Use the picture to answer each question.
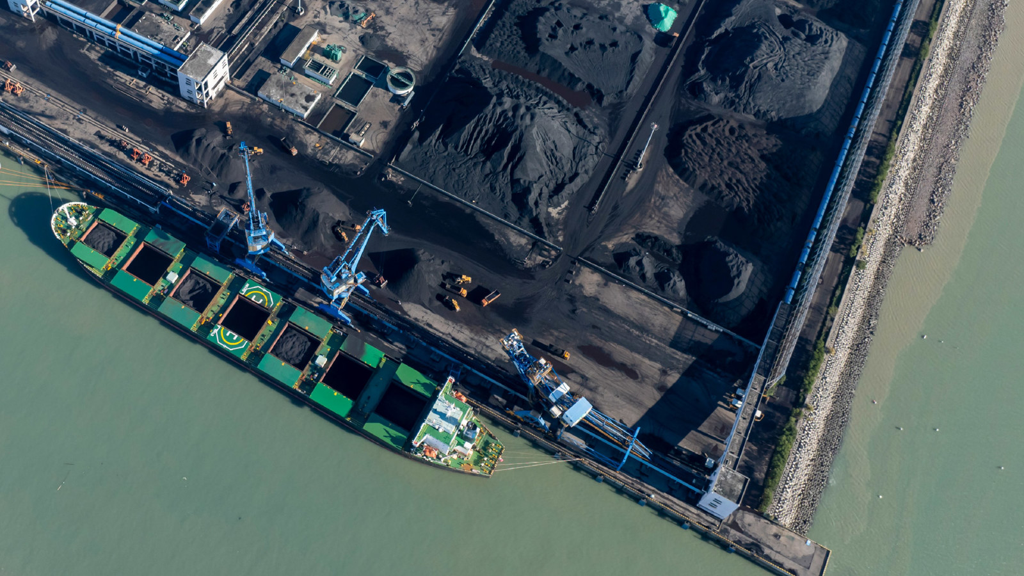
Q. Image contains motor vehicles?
Yes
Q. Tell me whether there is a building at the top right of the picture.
No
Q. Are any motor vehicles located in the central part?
Yes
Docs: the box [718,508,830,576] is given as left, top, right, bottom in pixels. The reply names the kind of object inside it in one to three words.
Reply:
pier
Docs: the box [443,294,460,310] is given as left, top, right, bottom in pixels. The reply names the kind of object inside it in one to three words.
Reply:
work vehicle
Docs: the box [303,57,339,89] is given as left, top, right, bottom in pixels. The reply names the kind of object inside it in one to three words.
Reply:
house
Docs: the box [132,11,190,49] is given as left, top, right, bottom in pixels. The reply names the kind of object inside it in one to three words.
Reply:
building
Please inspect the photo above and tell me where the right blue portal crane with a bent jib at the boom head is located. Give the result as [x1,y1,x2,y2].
[314,227,398,327]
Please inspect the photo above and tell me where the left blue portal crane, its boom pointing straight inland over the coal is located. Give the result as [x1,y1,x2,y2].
[230,151,291,281]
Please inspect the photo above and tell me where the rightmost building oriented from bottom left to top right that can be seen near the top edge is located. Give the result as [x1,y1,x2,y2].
[280,25,318,72]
